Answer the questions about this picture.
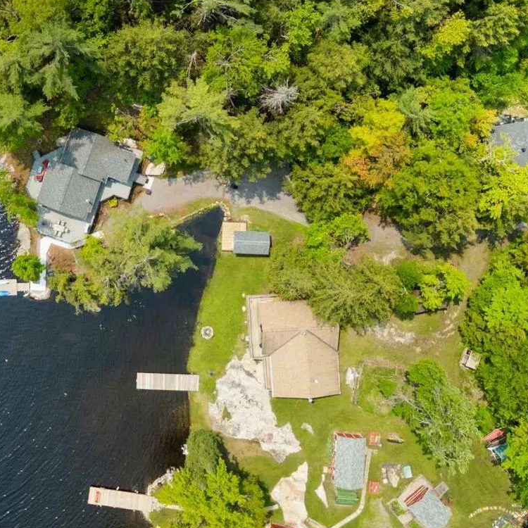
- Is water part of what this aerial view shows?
Yes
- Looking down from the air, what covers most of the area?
trees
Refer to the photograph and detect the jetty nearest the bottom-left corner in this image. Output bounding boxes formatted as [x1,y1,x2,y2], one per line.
[87,484,156,515]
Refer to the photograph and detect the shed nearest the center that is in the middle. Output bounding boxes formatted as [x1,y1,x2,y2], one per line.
[221,222,271,255]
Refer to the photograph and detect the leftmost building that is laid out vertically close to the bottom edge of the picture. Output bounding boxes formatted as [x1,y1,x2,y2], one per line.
[330,431,366,507]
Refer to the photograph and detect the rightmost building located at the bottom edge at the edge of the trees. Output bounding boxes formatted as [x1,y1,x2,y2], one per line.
[397,475,452,528]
